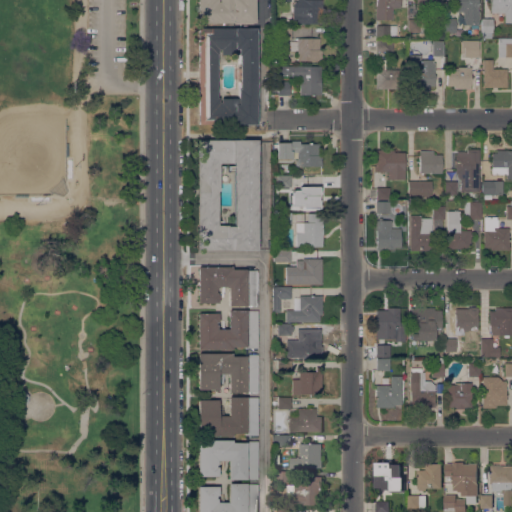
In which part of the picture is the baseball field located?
top left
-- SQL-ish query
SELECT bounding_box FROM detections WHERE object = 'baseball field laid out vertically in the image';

[0,0,89,222]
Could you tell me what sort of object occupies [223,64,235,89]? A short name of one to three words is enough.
swimming pool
